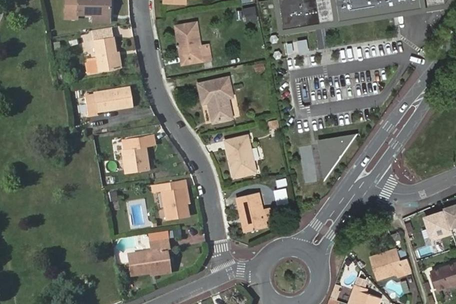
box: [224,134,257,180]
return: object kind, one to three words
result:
house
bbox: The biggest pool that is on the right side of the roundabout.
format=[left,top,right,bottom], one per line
[384,278,403,296]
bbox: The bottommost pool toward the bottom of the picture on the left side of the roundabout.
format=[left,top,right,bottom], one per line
[116,236,138,252]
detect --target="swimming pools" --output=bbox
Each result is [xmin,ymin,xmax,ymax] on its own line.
[418,245,433,258]
[344,272,358,286]
[384,278,403,296]
[130,204,145,226]
[116,236,138,252]
[106,161,118,172]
